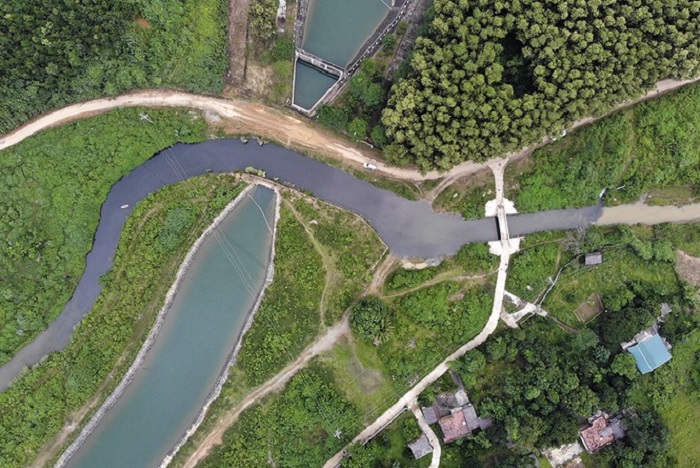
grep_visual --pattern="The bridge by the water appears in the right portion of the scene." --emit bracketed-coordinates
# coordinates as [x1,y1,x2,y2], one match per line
[484,199,520,257]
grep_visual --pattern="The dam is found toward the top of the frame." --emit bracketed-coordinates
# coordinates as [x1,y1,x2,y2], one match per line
[292,47,346,113]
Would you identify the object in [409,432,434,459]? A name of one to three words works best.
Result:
shed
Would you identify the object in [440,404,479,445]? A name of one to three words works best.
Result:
house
